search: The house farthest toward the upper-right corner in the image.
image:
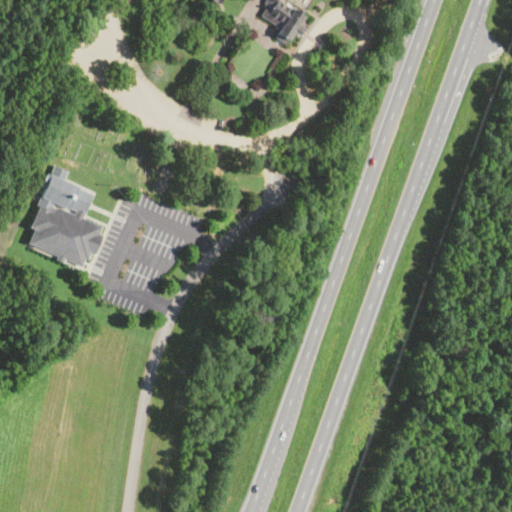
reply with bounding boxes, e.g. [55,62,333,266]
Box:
[258,0,310,46]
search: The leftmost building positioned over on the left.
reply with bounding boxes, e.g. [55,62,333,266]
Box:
[28,167,102,268]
